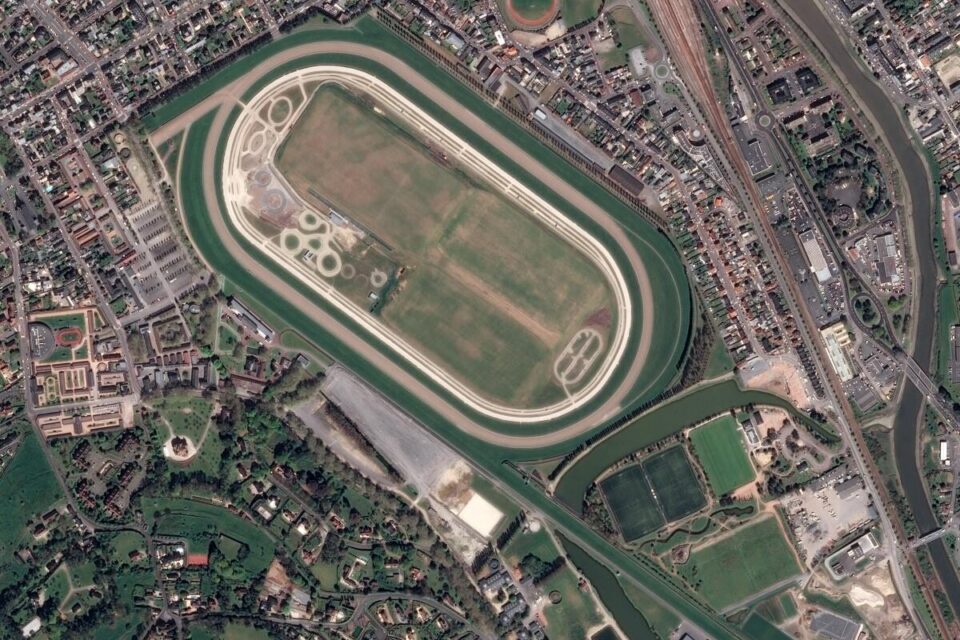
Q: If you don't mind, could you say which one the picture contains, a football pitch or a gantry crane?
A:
football pitch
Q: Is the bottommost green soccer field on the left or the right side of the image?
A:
right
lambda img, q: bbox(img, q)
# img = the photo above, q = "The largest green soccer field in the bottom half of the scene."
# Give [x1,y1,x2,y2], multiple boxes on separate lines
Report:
[688,415,759,495]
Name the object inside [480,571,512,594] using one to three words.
house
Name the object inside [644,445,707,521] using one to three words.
soccer field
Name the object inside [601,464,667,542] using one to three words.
soccer field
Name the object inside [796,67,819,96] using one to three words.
building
